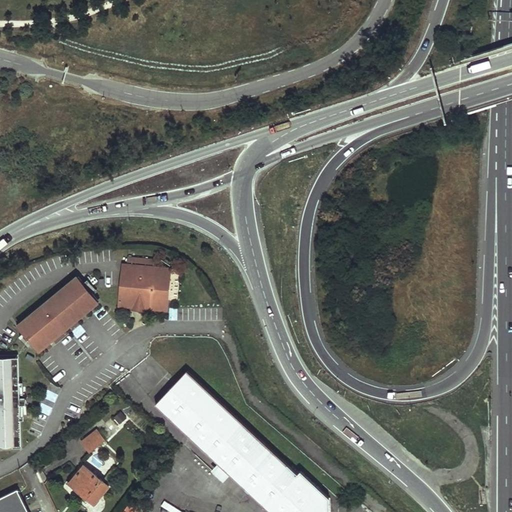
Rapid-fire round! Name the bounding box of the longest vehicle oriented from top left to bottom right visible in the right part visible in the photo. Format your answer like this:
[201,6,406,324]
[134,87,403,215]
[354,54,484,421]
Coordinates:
[344,427,364,446]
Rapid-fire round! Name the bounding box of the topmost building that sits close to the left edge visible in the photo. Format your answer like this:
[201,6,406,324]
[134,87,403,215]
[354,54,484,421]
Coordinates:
[16,276,98,354]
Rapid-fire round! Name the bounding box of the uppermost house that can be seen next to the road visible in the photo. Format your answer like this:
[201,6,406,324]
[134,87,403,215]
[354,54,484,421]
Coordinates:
[117,254,170,312]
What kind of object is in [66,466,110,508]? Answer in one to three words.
house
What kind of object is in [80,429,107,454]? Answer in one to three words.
house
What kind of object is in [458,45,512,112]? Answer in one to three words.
bridge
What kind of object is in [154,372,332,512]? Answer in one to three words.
warehouse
